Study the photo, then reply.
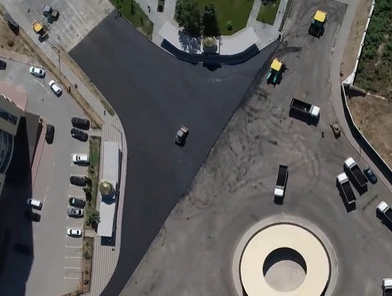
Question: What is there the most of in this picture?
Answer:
paved ground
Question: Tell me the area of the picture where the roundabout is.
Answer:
bottom right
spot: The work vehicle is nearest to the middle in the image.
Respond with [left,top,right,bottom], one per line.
[176,125,189,145]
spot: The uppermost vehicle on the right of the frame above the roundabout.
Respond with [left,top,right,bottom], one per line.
[289,98,320,118]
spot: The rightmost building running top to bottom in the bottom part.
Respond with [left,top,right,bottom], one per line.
[97,141,119,236]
